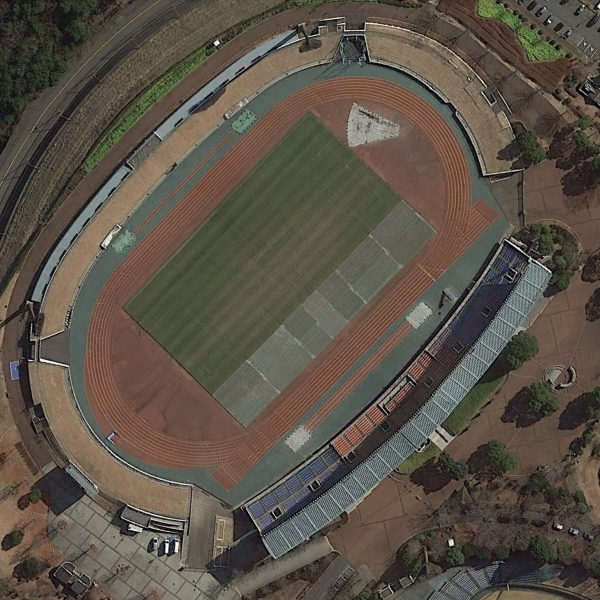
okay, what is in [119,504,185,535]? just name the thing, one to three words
building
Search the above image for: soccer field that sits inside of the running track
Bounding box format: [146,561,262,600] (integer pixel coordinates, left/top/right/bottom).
[121,112,435,428]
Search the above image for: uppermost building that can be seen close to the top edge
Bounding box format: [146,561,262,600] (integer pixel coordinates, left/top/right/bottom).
[299,16,346,40]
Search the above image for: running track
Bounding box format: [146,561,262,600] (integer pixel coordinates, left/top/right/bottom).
[69,62,512,510]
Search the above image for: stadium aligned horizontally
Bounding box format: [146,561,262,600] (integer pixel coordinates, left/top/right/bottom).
[415,547,600,600]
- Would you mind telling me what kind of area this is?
sports ground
